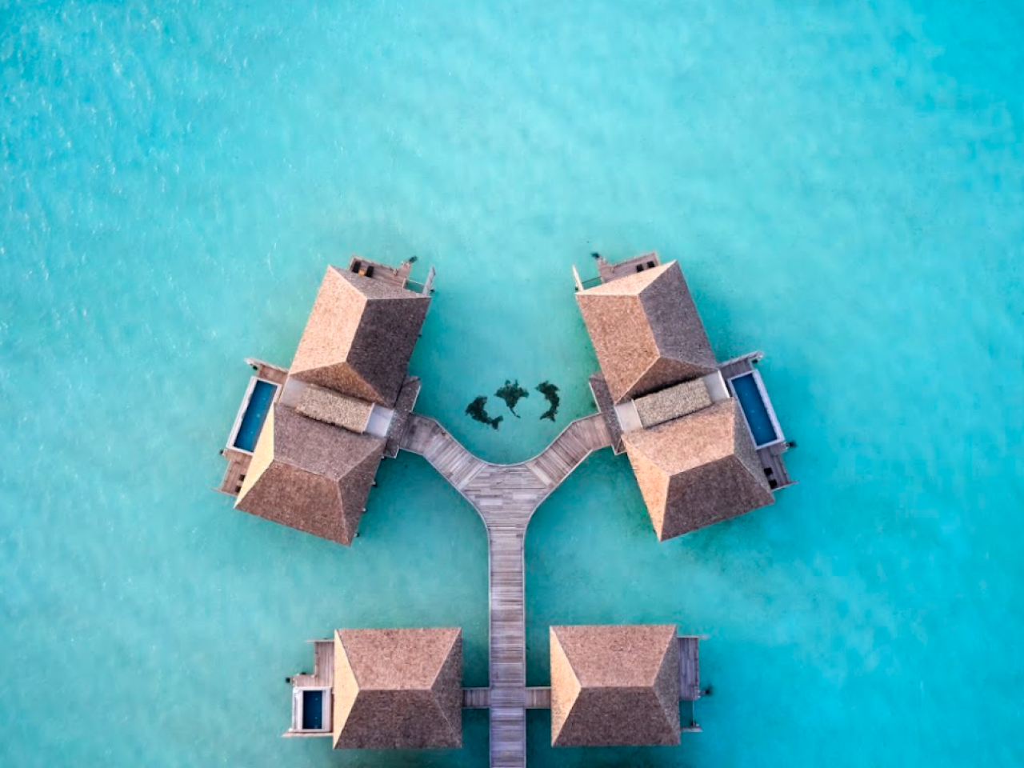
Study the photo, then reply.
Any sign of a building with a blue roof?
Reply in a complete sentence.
No, the scene contains no building with a blue roof.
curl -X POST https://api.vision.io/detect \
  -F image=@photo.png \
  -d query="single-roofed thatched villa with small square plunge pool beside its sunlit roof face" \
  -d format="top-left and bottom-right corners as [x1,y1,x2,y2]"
[281,626,463,751]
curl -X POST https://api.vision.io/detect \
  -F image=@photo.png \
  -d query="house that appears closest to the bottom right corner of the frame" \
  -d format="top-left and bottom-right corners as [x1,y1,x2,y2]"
[549,625,709,747]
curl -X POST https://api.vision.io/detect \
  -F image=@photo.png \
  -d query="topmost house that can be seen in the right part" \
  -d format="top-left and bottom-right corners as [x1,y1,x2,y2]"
[571,252,796,542]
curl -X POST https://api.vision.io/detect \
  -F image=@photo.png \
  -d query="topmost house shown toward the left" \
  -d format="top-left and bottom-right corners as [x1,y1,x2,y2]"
[212,255,435,546]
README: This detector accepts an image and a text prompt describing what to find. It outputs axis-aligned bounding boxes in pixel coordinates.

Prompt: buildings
[281,626,463,751]
[571,252,796,542]
[212,255,435,546]
[549,625,709,747]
